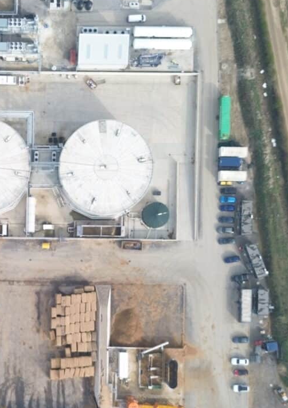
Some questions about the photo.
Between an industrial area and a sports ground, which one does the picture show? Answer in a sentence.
The area seen from above is an industrial area.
